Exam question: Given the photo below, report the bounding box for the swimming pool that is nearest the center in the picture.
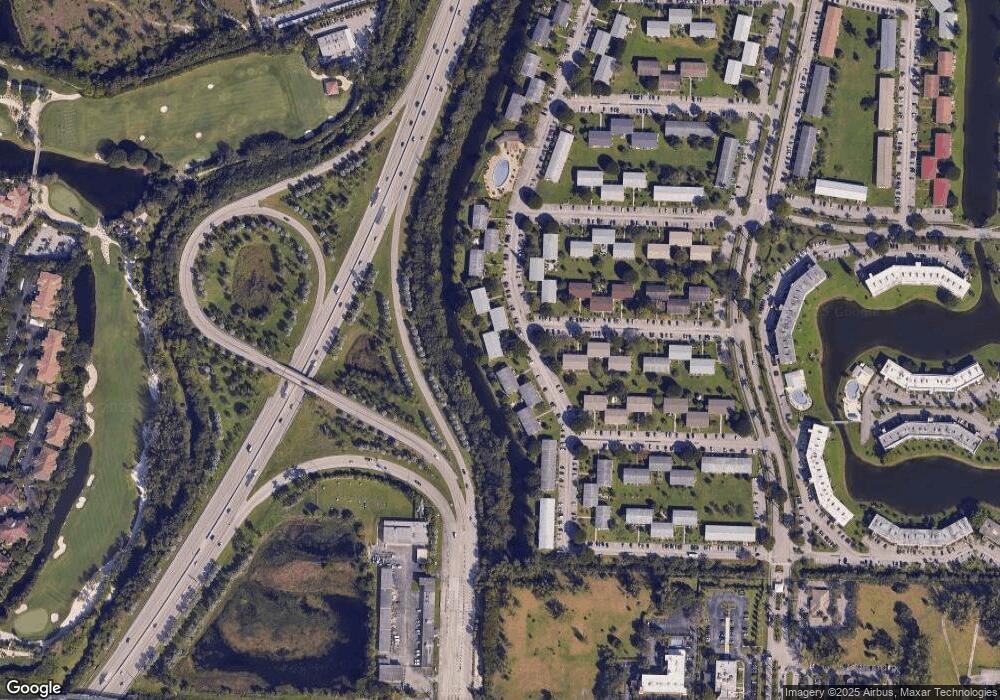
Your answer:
[484,142,525,198]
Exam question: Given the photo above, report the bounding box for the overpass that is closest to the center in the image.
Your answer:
[262,356,323,394]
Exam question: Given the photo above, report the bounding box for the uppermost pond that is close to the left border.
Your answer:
[0,145,147,222]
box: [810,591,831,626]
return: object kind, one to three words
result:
house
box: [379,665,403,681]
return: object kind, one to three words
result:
shed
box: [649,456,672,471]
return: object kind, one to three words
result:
building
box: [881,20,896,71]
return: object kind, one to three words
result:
building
